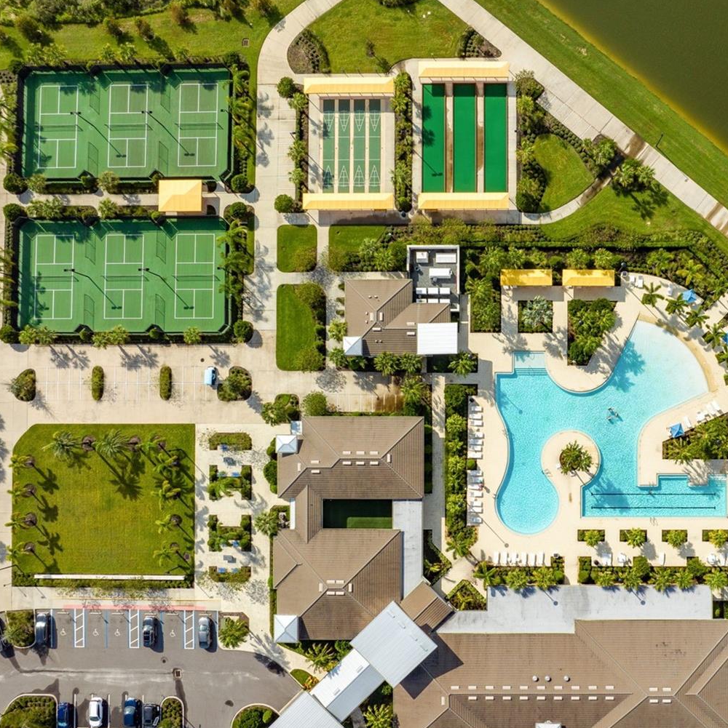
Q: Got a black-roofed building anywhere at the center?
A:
No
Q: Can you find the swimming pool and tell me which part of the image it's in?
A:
right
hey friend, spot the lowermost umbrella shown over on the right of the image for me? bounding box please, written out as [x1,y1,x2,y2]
[670,423,684,437]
